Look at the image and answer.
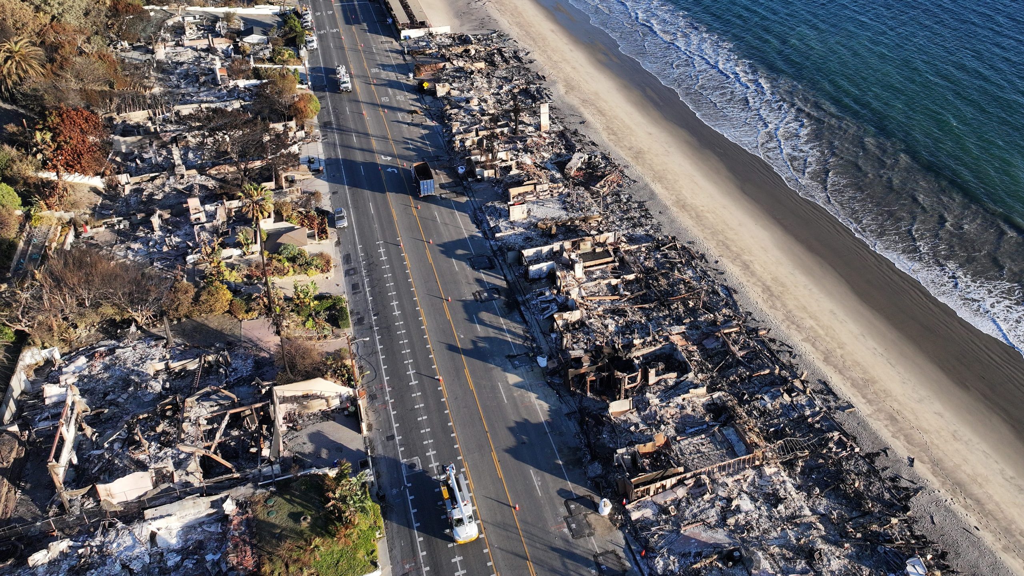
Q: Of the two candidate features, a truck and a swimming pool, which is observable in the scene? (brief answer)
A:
truck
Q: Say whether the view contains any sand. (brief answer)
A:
Yes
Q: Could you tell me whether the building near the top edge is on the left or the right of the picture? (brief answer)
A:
left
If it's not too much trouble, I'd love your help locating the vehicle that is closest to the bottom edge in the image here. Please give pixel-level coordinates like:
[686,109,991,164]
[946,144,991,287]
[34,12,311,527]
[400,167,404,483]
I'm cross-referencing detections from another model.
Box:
[430,447,475,541]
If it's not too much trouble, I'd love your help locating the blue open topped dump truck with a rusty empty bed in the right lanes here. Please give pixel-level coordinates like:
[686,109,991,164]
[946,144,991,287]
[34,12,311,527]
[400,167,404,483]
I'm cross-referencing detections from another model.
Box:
[408,157,434,195]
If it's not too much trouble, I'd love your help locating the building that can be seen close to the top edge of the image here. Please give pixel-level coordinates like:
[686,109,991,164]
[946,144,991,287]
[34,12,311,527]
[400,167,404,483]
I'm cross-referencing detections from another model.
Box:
[236,18,268,43]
